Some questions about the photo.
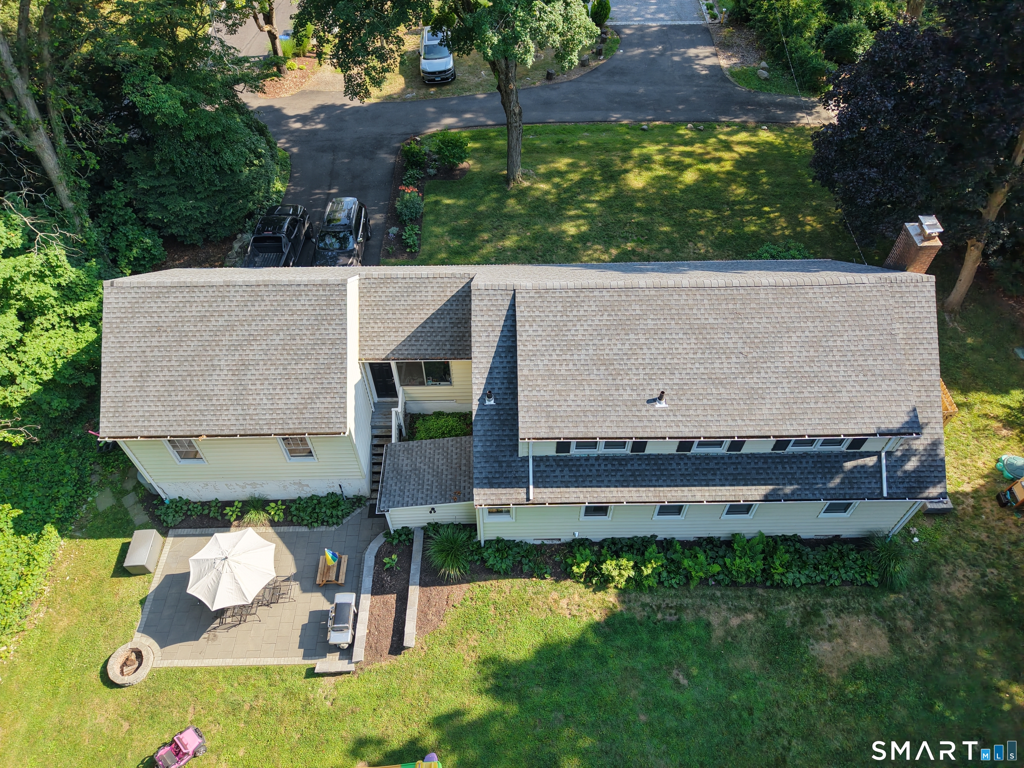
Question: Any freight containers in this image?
No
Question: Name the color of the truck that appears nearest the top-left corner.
black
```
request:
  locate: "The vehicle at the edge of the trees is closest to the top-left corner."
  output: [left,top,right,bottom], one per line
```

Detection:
[243,209,315,266]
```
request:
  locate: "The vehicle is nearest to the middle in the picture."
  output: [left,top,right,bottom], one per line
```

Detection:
[313,196,374,265]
